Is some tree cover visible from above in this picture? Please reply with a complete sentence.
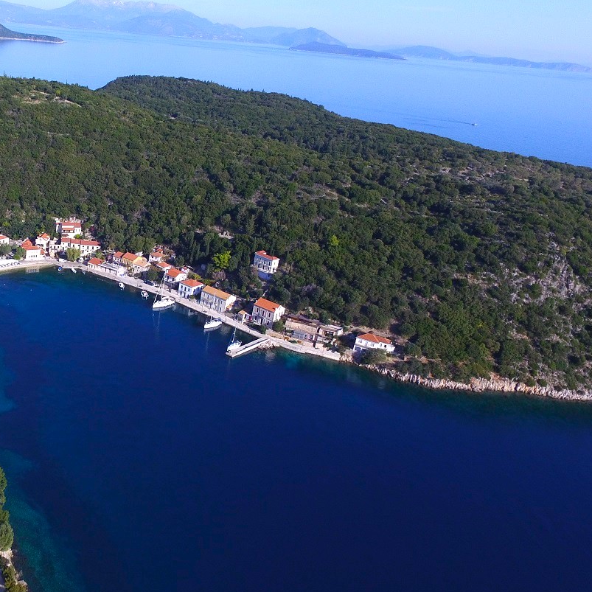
Yes, some tree cover is visible.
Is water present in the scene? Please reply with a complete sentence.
Yes, the picture does contain water.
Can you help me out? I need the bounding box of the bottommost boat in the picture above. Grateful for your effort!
[227,311,244,352]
